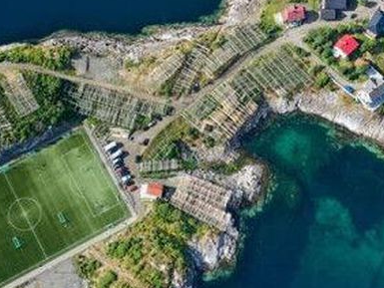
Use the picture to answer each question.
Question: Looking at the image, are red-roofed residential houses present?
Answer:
Yes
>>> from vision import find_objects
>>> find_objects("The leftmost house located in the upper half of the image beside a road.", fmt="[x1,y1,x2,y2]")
[275,6,307,27]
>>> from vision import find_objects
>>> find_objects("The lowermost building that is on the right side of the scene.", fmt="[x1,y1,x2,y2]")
[357,66,384,114]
